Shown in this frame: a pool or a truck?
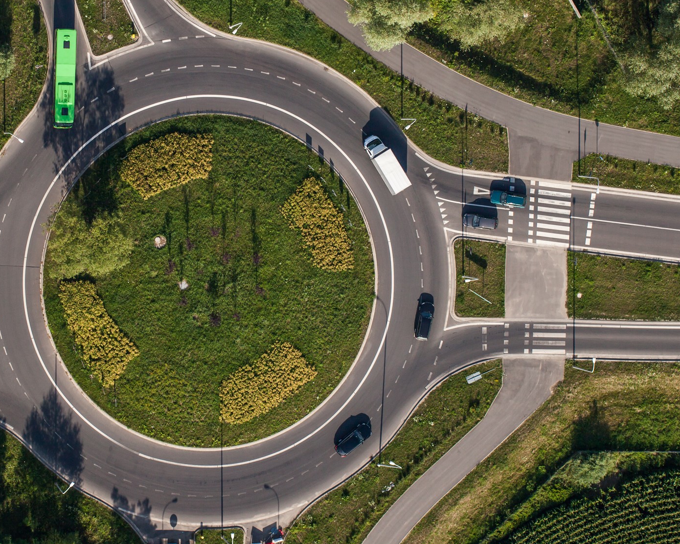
truck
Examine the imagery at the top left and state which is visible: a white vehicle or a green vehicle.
green vehicle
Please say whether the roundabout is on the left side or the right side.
left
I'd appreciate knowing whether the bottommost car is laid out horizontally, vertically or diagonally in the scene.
diagonally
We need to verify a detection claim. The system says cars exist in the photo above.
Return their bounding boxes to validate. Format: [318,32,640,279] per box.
[490,188,527,207]
[335,423,372,453]
[463,213,498,231]
[415,301,436,341]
